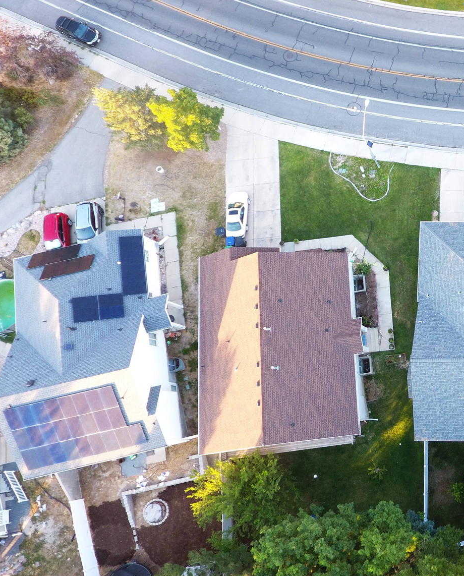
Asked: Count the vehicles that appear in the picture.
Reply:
four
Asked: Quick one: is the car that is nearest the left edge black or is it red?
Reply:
red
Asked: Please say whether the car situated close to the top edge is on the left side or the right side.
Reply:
left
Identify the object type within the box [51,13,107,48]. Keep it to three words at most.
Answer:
car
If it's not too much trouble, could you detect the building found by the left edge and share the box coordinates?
[0,228,186,481]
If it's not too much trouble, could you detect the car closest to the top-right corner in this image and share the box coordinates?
[225,192,249,241]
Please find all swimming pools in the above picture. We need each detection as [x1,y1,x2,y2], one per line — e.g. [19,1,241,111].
[0,279,16,335]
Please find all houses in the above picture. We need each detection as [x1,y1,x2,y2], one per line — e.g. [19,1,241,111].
[408,220,464,442]
[0,228,186,481]
[198,246,383,459]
